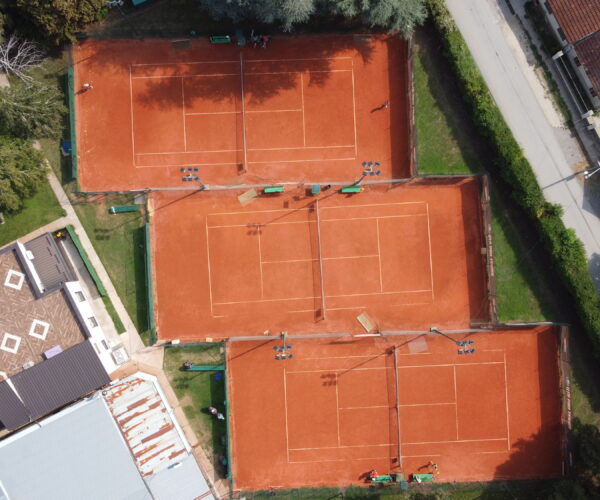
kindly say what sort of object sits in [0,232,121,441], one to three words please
building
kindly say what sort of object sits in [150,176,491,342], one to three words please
tennis court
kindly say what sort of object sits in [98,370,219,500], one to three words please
shed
